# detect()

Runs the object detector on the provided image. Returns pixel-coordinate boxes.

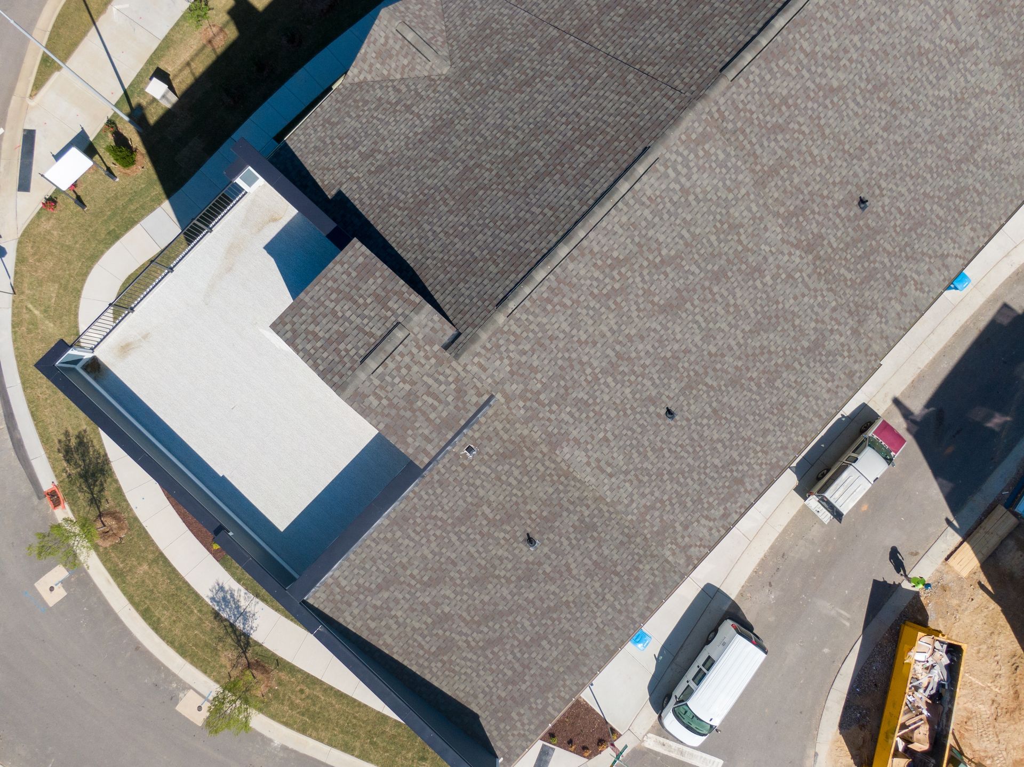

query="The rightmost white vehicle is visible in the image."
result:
[804,416,906,527]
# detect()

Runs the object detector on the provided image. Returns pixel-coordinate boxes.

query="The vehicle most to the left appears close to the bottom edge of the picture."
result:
[656,616,770,746]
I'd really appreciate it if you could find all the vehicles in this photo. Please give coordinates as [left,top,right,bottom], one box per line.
[656,616,770,746]
[804,416,906,527]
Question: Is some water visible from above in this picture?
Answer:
No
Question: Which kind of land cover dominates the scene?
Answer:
buildings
